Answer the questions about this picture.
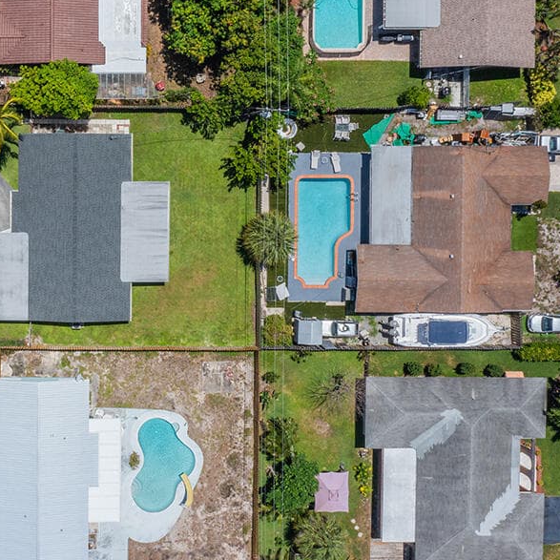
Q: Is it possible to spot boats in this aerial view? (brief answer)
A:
Yes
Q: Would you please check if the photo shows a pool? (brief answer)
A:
Yes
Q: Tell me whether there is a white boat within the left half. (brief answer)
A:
No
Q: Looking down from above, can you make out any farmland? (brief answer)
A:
No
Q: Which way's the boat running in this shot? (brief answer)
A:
horizontally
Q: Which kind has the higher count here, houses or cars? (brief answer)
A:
houses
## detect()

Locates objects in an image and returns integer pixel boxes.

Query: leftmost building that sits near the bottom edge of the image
[0,364,121,560]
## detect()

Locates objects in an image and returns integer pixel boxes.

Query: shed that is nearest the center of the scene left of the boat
[289,317,322,345]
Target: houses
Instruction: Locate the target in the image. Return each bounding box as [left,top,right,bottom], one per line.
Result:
[360,378,547,560]
[0,132,170,329]
[376,0,536,103]
[353,145,551,315]
[0,364,121,560]
[0,0,158,102]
